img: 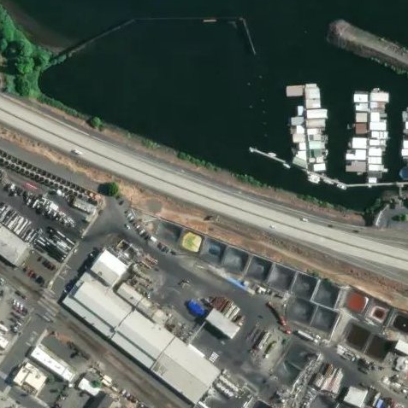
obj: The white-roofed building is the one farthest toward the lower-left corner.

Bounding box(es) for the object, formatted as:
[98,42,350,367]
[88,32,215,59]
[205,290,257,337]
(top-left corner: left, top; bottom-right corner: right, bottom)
[13,363,45,392]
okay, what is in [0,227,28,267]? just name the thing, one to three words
building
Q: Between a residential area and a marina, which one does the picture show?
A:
marina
